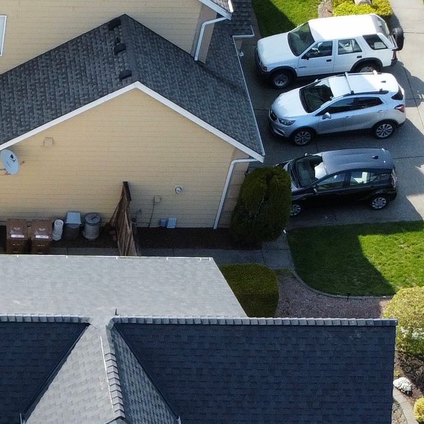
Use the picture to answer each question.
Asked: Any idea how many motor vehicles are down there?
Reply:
3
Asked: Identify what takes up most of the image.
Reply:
buildings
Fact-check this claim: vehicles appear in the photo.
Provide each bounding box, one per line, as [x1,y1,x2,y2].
[267,65,415,147]
[266,143,407,218]
[243,3,403,89]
